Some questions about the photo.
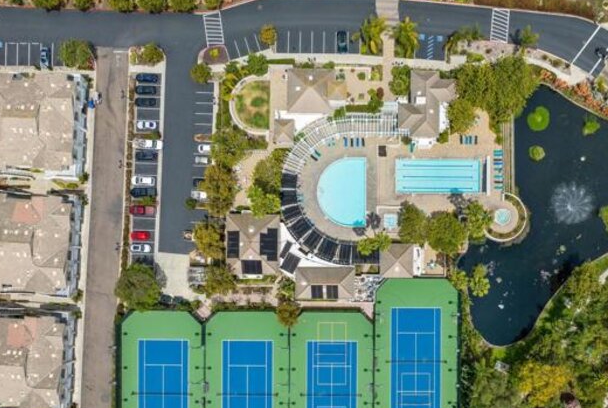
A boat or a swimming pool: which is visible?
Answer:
swimming pool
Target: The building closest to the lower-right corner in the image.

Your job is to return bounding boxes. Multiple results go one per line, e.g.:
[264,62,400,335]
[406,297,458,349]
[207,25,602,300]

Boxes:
[379,243,422,277]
